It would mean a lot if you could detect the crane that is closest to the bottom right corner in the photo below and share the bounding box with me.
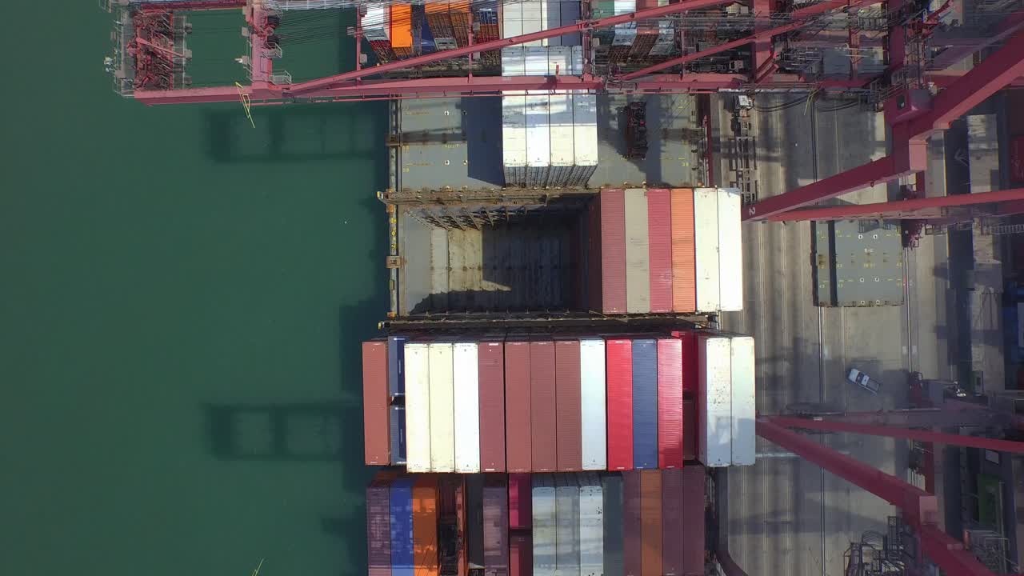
[710,364,1024,576]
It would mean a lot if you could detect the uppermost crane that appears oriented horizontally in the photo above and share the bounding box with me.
[98,0,1024,253]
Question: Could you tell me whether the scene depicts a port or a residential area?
port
